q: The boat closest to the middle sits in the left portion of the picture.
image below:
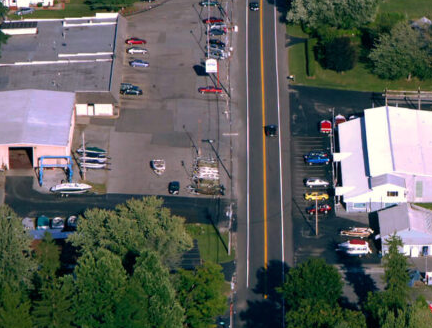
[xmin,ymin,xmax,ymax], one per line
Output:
[154,157,167,173]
